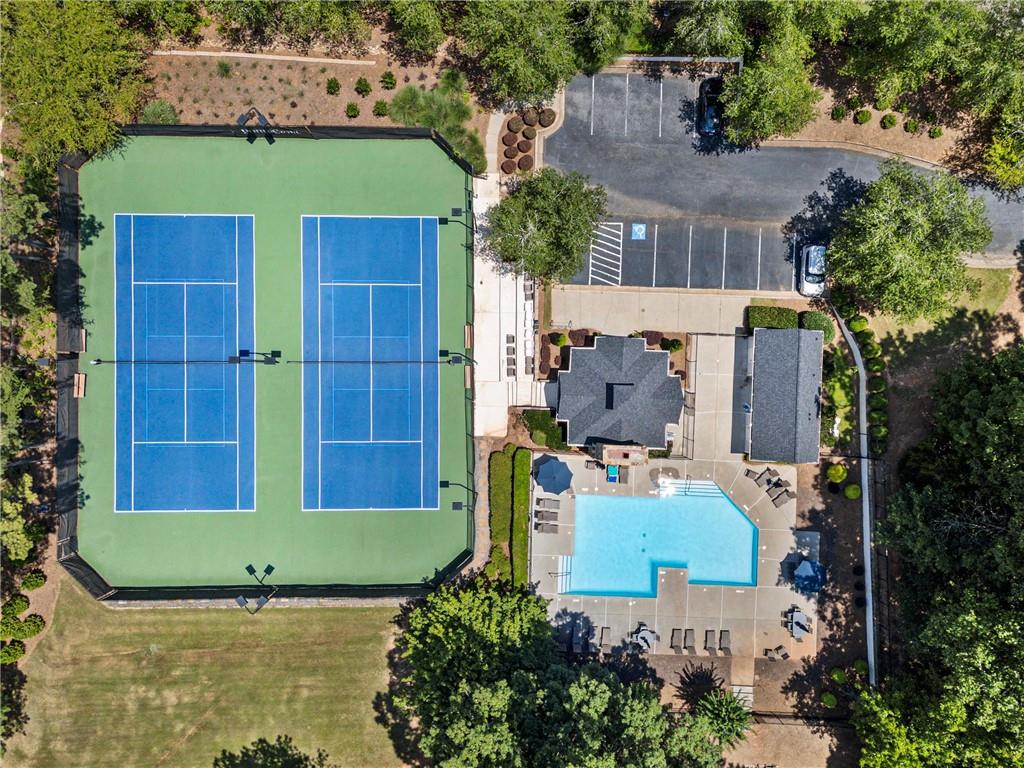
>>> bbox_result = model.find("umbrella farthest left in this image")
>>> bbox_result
[534,456,572,494]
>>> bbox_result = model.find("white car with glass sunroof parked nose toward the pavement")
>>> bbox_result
[797,243,828,299]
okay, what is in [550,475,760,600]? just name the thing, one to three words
swimming pool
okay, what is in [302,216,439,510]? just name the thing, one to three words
tennis court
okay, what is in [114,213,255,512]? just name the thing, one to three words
tennis court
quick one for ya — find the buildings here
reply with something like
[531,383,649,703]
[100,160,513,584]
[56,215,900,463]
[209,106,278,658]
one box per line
[556,335,686,452]
[744,328,825,466]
